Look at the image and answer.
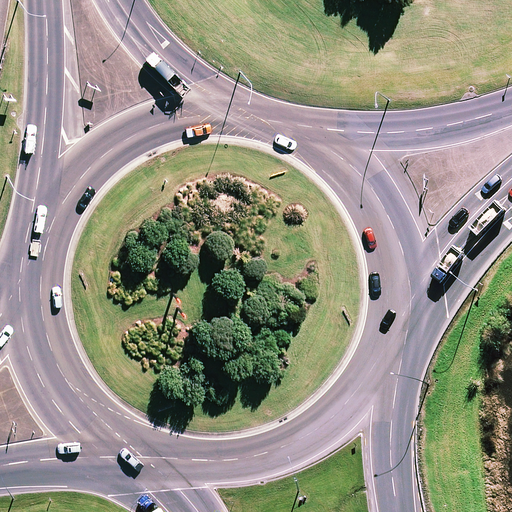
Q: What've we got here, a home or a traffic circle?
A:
traffic circle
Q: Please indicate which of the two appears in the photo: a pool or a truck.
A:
truck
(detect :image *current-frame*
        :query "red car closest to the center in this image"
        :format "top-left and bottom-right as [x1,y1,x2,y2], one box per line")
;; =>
[365,226,378,248]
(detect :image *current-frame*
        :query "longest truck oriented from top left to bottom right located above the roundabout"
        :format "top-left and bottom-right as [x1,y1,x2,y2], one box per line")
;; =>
[145,50,190,96]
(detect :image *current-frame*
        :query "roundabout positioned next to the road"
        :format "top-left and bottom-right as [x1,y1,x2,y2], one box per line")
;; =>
[22,93,410,482]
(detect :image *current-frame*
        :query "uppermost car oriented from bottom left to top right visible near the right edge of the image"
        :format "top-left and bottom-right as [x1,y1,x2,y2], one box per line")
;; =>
[482,174,502,194]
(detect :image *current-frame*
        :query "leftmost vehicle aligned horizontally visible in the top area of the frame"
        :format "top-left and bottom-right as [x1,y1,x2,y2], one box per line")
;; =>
[186,124,211,137]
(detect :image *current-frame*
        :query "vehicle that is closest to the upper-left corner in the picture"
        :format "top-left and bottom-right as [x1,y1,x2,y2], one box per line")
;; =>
[24,124,38,153]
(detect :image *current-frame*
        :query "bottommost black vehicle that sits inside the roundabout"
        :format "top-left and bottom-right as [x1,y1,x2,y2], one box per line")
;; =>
[381,308,396,330]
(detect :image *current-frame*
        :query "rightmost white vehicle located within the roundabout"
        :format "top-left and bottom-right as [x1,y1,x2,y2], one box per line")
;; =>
[274,134,297,149]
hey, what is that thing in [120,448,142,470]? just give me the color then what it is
white truck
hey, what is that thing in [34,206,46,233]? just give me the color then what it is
white vehicle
